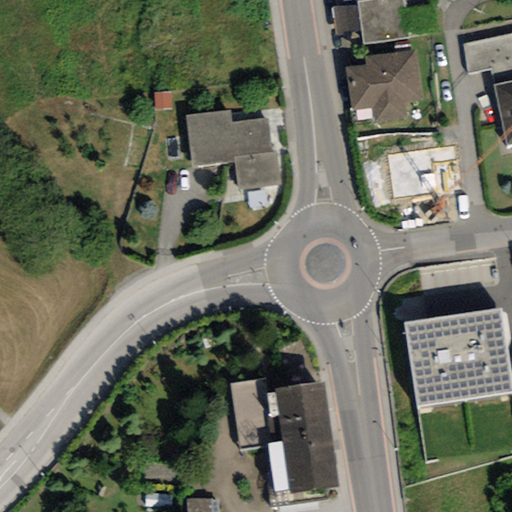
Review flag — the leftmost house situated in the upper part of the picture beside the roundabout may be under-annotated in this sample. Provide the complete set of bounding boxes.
[186,110,281,190]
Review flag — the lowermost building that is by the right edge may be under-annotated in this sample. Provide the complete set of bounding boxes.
[405,308,512,408]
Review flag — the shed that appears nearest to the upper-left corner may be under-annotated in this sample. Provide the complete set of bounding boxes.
[154,92,172,110]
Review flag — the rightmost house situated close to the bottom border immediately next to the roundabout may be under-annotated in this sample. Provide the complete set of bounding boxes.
[267,382,339,508]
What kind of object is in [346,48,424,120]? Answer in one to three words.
house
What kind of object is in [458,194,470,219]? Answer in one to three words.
vehicle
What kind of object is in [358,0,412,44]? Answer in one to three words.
house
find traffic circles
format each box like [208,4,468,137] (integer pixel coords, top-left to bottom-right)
[264,203,382,325]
